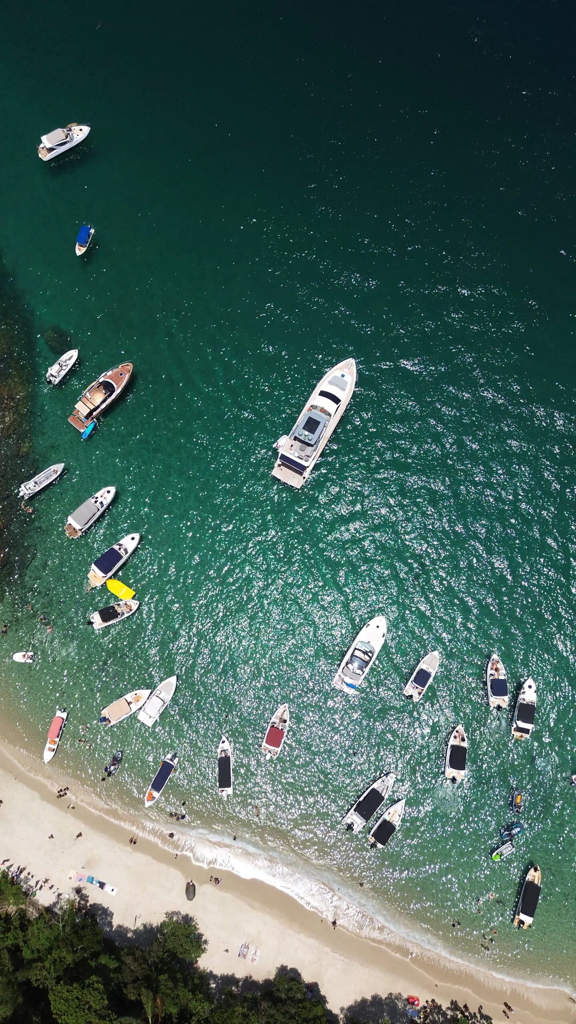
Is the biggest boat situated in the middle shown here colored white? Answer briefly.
Yes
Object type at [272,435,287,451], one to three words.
boat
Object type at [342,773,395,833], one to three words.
boat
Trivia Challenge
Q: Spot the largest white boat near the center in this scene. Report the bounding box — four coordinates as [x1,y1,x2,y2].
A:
[271,354,358,489]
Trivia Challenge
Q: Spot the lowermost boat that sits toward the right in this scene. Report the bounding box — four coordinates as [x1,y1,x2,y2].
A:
[511,863,541,929]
